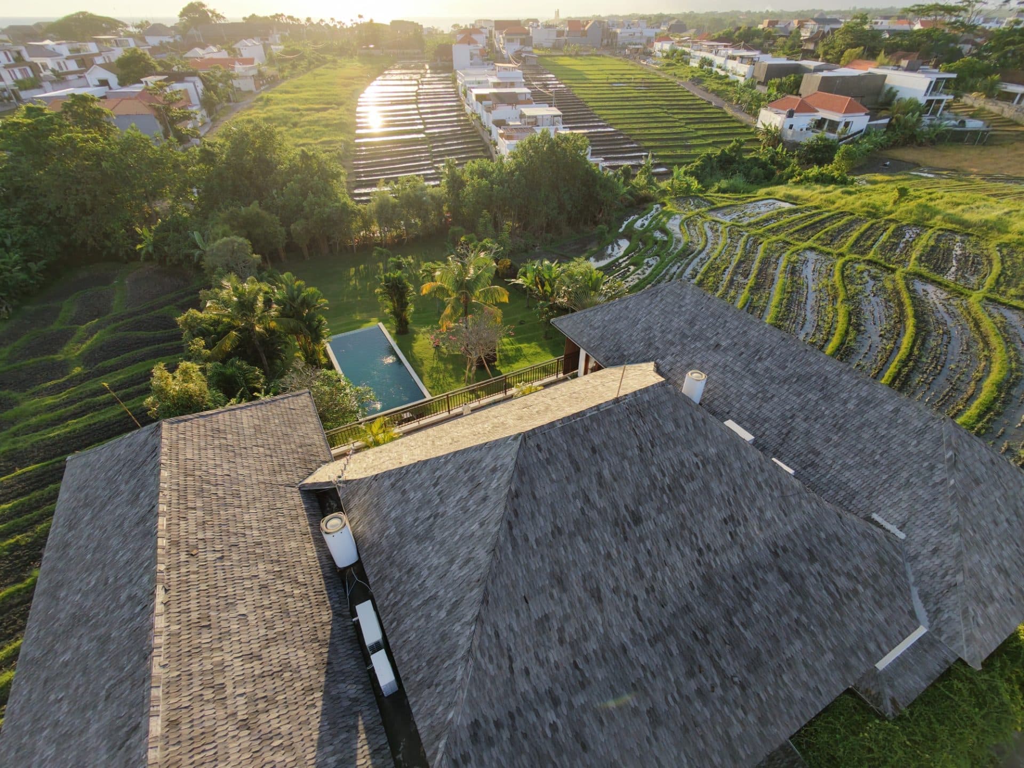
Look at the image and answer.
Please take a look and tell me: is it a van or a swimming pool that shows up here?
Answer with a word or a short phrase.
swimming pool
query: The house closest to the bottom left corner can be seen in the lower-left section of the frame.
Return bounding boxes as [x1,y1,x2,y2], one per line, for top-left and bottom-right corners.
[0,392,387,768]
